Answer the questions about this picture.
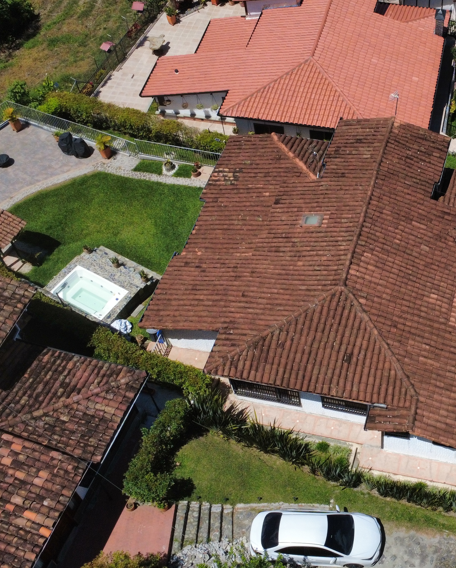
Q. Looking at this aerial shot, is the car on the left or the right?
right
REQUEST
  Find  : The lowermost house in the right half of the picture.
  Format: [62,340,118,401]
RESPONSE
[138,116,456,462]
